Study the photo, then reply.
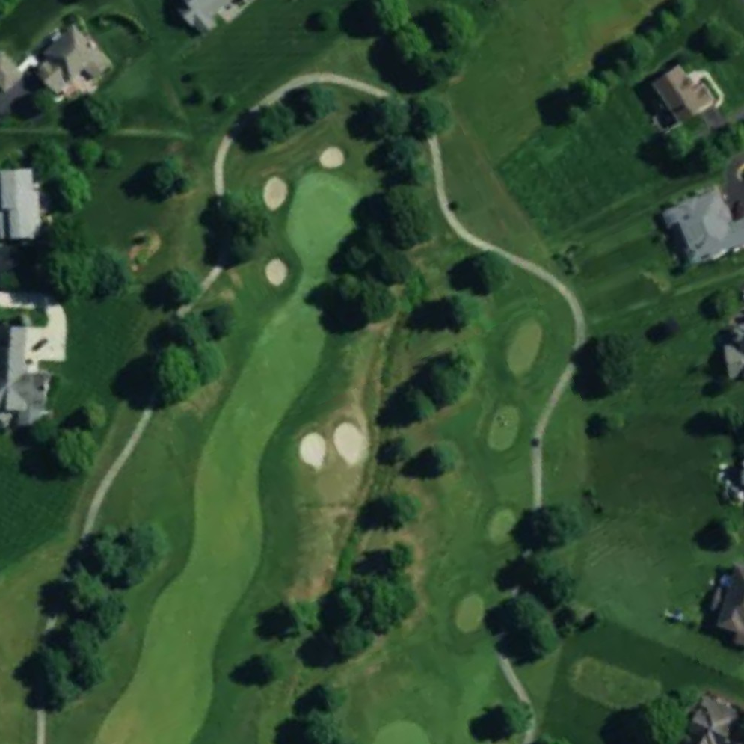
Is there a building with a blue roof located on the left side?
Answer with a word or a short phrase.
No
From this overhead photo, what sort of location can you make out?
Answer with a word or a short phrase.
golf course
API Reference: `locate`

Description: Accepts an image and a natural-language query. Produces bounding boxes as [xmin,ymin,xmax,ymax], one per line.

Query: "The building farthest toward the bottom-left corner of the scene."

[0,326,53,420]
